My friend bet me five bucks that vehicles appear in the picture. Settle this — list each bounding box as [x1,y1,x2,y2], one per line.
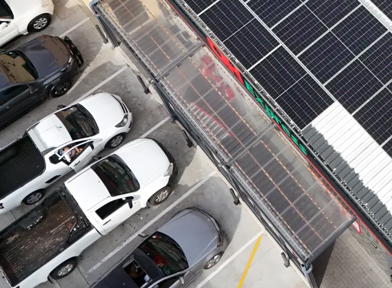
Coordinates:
[81,210,222,288]
[0,0,50,48]
[0,23,83,122]
[0,90,125,212]
[0,137,173,288]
